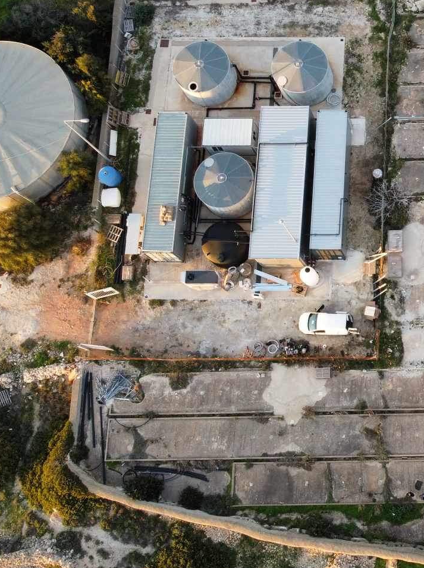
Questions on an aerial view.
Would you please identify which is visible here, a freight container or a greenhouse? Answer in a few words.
freight container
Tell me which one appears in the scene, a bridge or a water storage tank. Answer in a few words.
water storage tank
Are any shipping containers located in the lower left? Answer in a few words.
No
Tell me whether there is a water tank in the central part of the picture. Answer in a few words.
Yes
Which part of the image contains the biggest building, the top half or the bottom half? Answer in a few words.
top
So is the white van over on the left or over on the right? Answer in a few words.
right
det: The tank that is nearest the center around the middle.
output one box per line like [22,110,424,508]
[202,222,251,272]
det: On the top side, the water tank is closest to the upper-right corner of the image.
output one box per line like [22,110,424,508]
[271,39,333,105]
